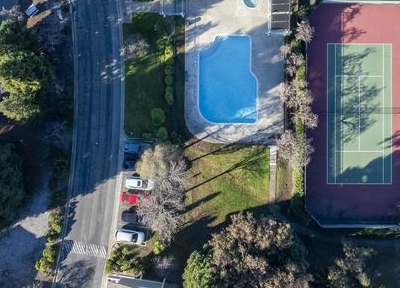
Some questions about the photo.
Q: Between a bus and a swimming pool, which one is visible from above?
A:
swimming pool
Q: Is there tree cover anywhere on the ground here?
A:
Yes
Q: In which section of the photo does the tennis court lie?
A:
right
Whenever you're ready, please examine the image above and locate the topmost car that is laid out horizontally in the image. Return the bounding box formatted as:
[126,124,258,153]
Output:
[123,141,149,154]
